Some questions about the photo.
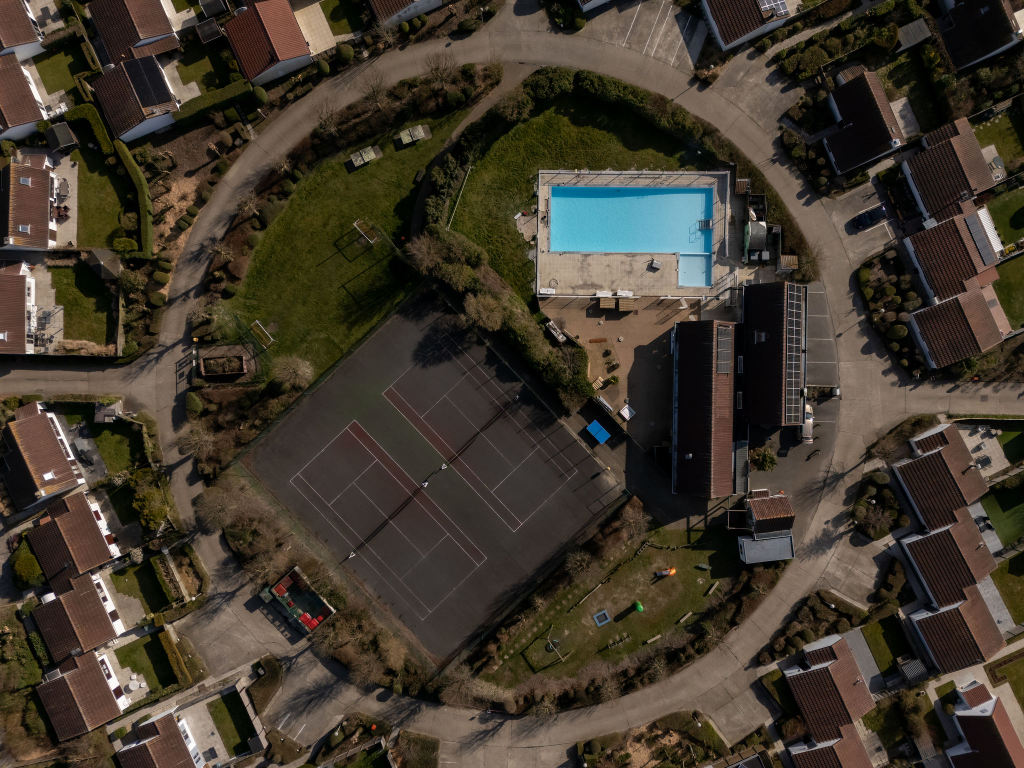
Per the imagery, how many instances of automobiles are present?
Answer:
2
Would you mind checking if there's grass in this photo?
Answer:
Yes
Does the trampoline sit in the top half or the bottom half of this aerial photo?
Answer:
bottom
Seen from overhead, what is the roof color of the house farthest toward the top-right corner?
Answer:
black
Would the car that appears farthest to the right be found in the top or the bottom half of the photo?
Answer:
top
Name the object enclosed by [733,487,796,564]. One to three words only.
building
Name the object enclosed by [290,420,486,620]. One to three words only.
tennis court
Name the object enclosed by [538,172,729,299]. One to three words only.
swimming pool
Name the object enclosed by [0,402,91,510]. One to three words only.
house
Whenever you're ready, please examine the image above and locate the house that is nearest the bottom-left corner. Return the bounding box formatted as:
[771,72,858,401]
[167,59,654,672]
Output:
[36,644,131,741]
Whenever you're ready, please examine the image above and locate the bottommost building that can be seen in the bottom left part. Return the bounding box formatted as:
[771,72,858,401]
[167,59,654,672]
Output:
[120,705,209,768]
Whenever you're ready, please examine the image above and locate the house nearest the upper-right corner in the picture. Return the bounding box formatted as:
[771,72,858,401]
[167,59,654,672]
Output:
[929,0,1023,71]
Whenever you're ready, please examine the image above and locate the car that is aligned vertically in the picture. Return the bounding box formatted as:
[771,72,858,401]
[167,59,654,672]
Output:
[799,405,819,443]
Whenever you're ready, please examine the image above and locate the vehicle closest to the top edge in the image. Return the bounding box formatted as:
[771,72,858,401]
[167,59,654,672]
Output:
[850,205,888,231]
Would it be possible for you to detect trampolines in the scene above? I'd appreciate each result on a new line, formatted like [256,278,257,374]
[592,608,613,629]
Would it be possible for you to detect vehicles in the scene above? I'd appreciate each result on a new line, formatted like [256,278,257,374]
[850,205,888,231]
[799,405,819,443]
